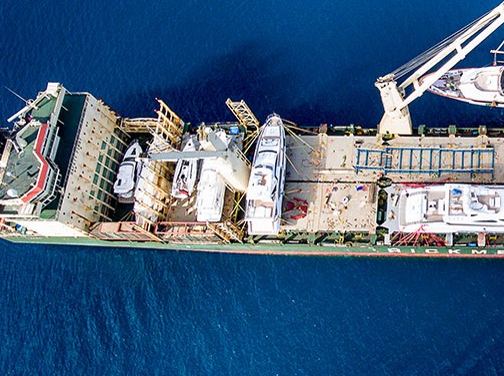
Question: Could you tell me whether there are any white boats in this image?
Yes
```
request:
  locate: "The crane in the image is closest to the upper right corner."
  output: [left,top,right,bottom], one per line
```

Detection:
[365,7,504,142]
